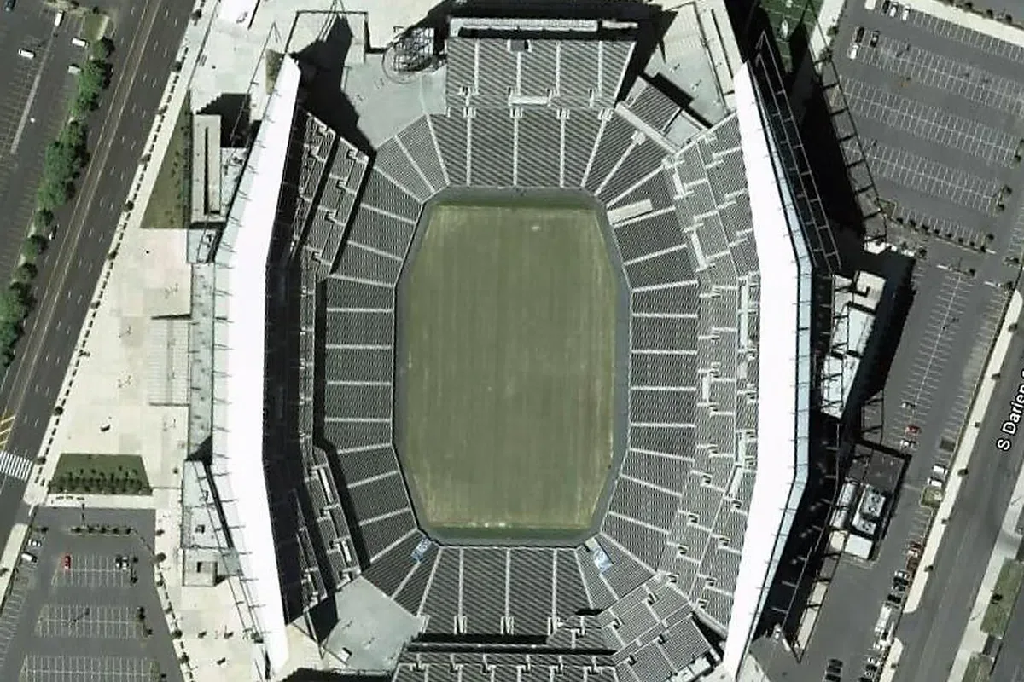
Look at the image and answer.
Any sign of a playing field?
Yes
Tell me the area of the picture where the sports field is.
center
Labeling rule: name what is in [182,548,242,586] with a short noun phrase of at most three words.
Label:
building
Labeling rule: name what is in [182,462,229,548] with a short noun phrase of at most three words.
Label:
building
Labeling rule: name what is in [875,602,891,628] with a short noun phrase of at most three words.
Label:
vehicle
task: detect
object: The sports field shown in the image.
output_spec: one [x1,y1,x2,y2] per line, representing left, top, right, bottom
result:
[404,203,620,525]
